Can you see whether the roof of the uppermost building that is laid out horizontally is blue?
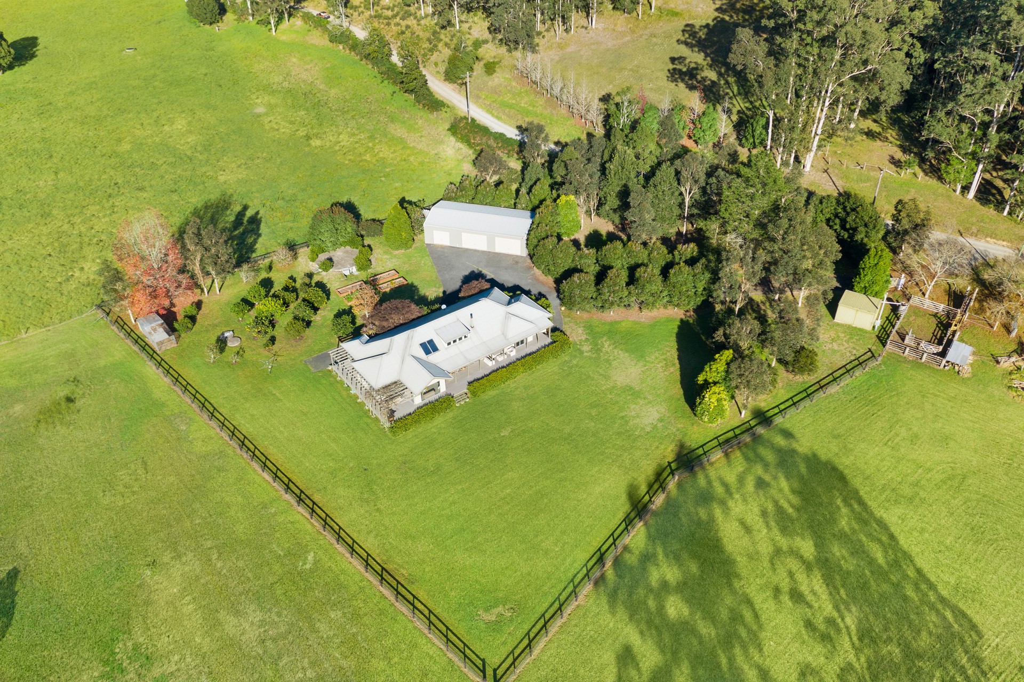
No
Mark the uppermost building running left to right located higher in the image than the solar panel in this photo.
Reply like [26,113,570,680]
[423,200,536,256]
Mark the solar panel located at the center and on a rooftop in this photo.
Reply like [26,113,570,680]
[420,338,440,361]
